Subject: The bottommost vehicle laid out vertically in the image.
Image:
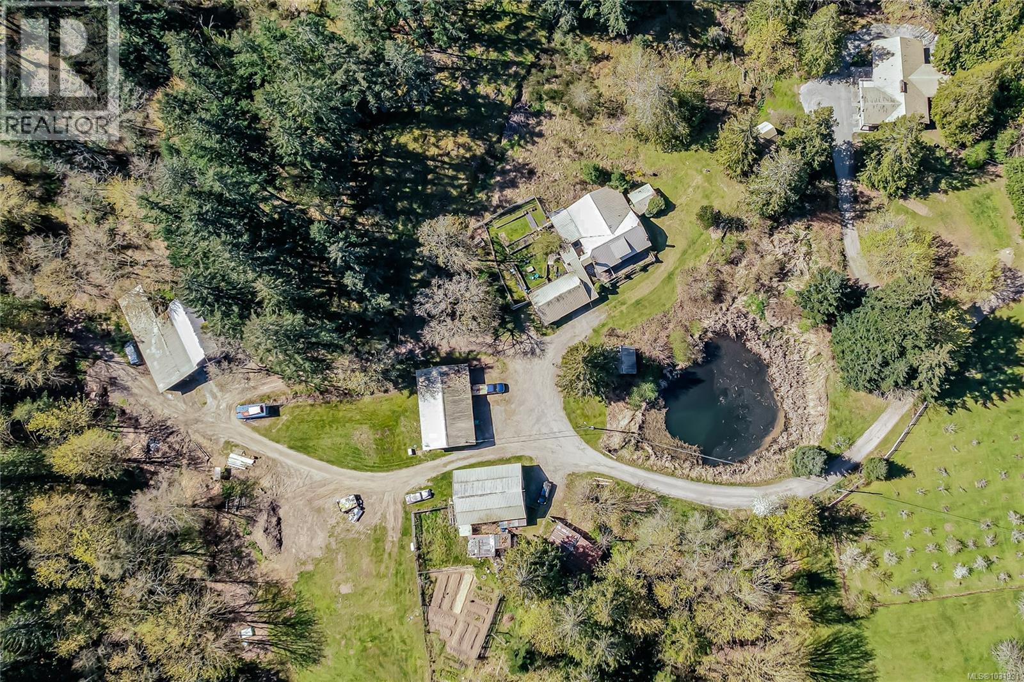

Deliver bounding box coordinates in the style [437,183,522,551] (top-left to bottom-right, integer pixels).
[537,479,552,507]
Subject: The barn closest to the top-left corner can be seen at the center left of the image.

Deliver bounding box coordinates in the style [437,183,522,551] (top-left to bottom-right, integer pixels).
[119,286,221,392]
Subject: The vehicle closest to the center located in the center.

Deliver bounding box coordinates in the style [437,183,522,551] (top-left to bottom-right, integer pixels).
[471,383,509,396]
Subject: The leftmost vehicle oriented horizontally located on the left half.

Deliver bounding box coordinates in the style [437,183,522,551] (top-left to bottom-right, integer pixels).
[235,404,272,420]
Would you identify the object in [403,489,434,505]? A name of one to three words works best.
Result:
car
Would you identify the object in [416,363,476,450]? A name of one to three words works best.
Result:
barn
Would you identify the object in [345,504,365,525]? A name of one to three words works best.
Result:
vehicle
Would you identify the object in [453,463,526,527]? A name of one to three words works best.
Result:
barn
